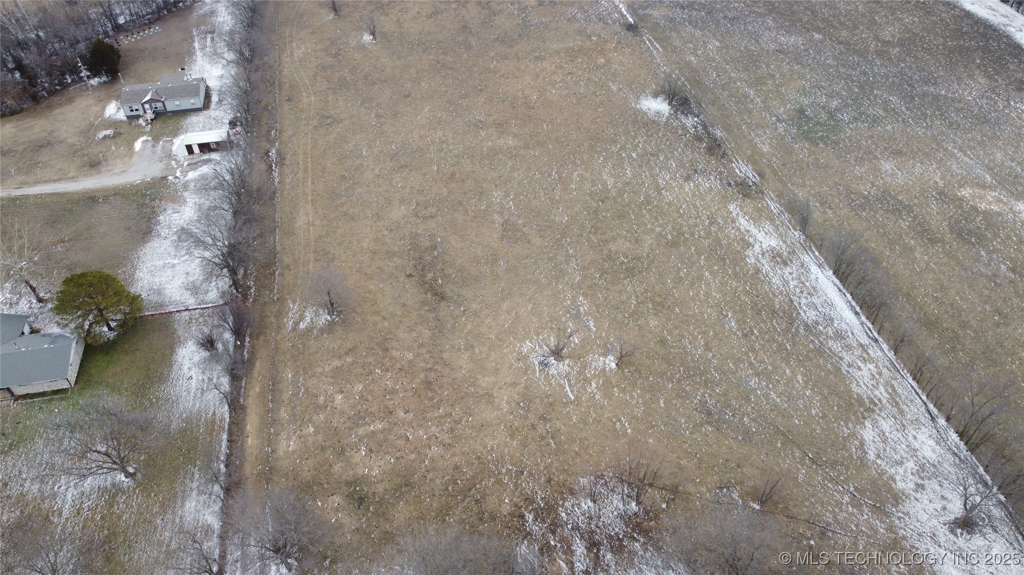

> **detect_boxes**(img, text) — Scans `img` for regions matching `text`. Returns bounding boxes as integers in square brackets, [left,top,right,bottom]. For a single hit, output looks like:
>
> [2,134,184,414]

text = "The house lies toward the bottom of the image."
[0,312,89,399]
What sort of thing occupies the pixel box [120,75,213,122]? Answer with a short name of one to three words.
house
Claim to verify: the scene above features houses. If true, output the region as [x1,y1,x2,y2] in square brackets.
[0,312,89,399]
[120,75,213,122]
